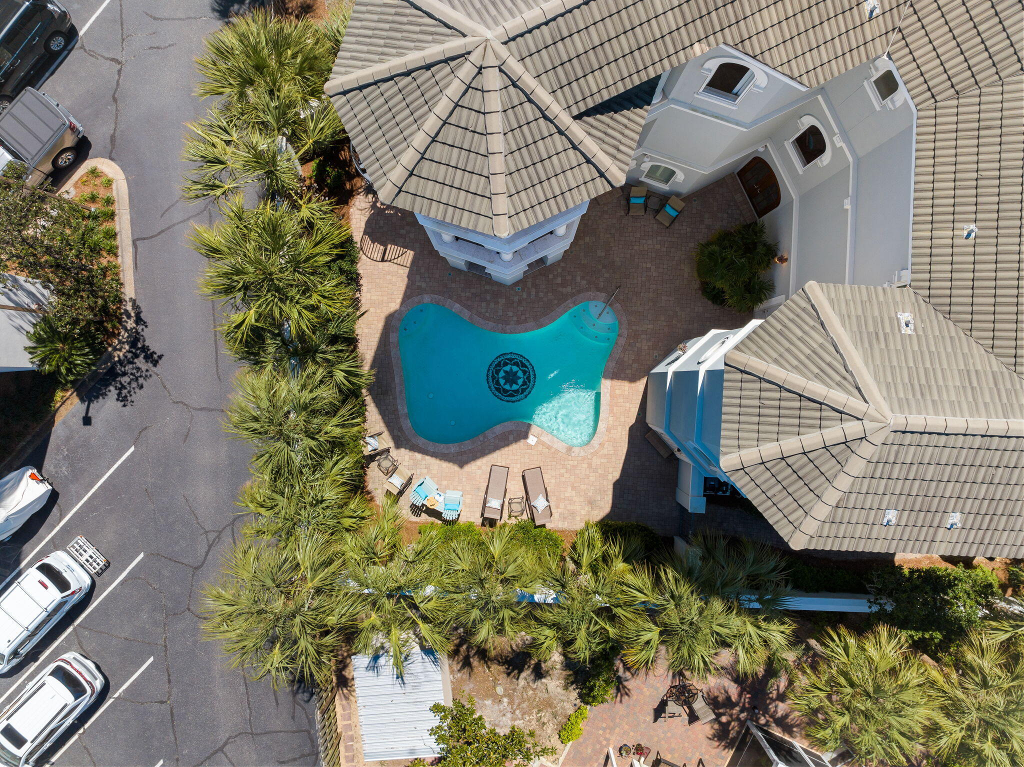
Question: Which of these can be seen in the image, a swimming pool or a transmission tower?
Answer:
swimming pool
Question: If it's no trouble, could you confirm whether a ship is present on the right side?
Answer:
No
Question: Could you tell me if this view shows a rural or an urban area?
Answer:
urban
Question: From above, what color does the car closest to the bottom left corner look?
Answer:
white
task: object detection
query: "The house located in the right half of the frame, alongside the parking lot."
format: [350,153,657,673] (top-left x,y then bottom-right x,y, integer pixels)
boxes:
[315,0,1024,559]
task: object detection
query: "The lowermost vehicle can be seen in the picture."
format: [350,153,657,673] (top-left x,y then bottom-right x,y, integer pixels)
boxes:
[0,644,114,767]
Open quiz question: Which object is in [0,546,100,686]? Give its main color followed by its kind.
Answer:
white vehicle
